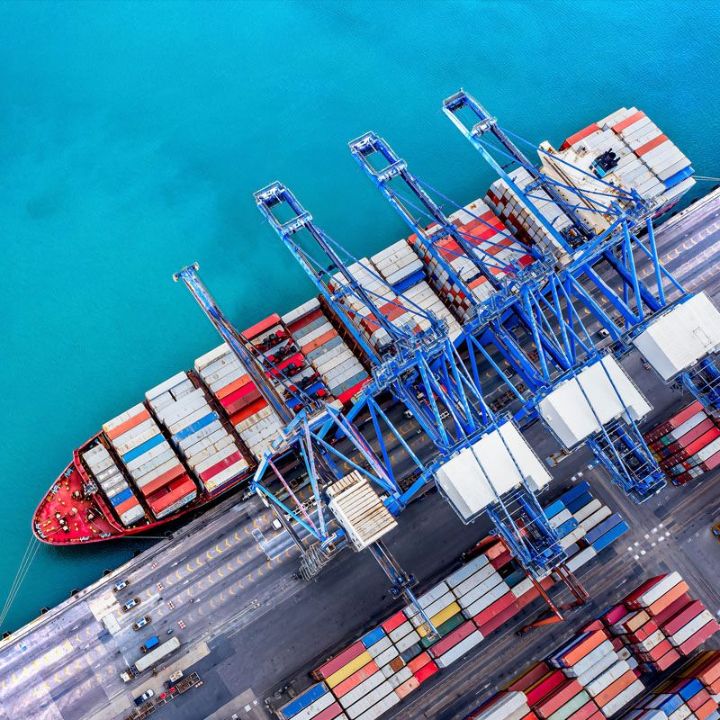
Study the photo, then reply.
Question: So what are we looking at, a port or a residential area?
port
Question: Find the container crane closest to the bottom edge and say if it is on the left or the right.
right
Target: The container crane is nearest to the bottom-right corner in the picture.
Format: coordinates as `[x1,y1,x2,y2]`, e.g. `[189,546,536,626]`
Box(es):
[447,505,597,640]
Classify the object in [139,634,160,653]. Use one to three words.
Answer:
vehicle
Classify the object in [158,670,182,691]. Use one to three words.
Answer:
truck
